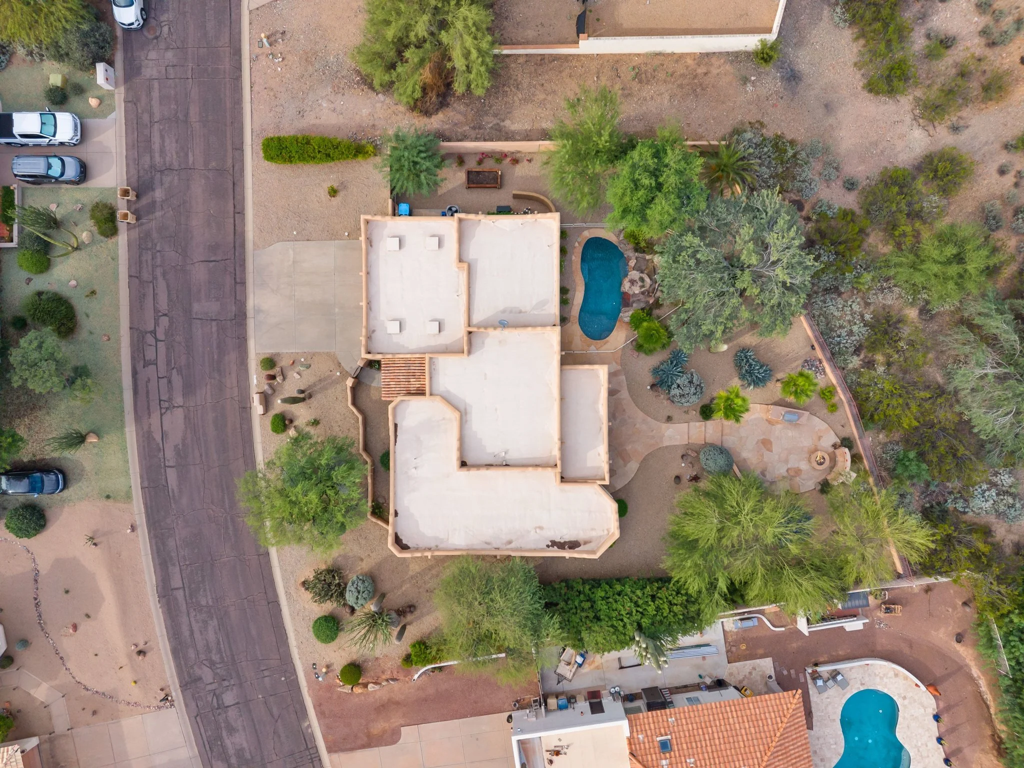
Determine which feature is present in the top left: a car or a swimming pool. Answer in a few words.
car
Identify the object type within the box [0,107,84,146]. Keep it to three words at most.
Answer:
truck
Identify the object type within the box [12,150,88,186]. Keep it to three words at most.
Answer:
car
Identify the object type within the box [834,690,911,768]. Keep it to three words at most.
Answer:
swimming pool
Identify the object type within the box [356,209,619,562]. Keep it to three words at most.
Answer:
house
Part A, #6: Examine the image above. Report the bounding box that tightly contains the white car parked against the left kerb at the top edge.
[113,0,152,31]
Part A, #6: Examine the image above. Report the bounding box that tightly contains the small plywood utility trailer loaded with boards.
[551,644,588,691]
